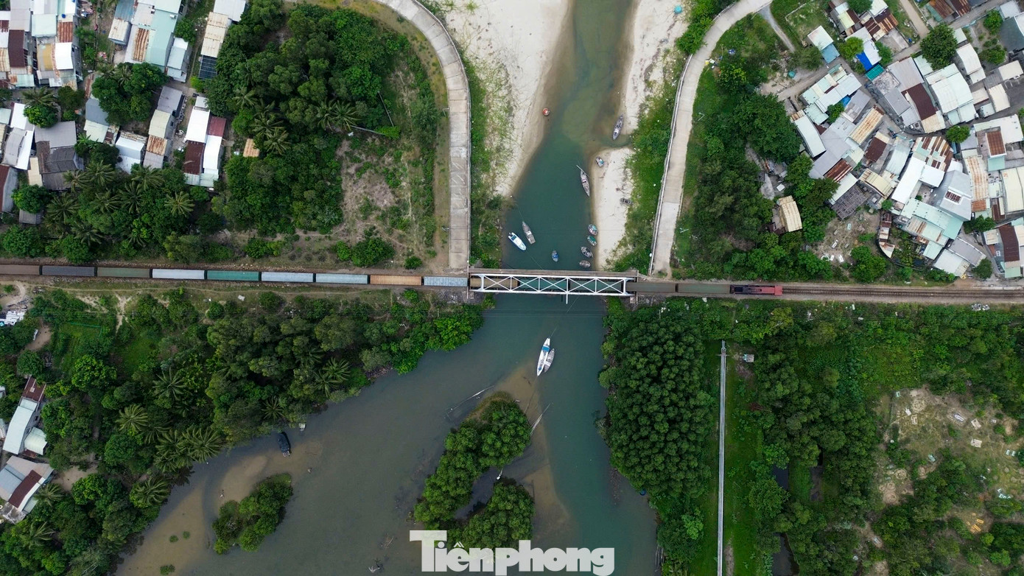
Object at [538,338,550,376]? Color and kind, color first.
white boat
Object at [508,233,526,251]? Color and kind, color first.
white boat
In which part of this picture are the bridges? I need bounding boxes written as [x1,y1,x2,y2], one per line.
[460,266,646,304]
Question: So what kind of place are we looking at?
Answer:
residential area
